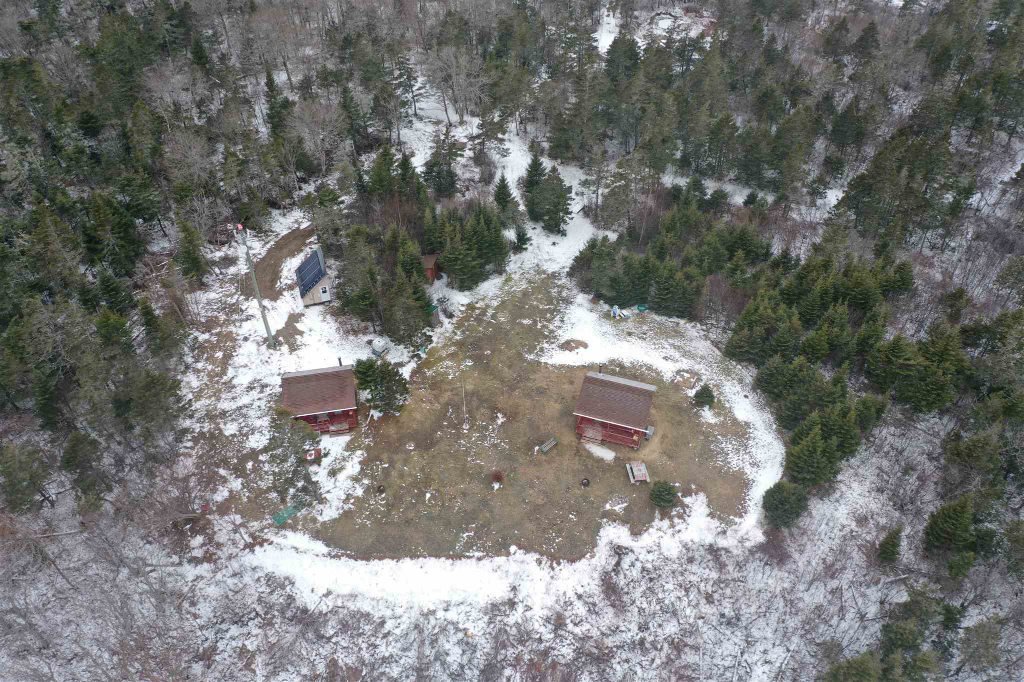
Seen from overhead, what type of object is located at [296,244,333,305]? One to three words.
shed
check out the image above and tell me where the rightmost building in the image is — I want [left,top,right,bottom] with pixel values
[572,367,658,450]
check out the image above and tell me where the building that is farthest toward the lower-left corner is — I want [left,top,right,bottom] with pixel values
[279,359,359,440]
